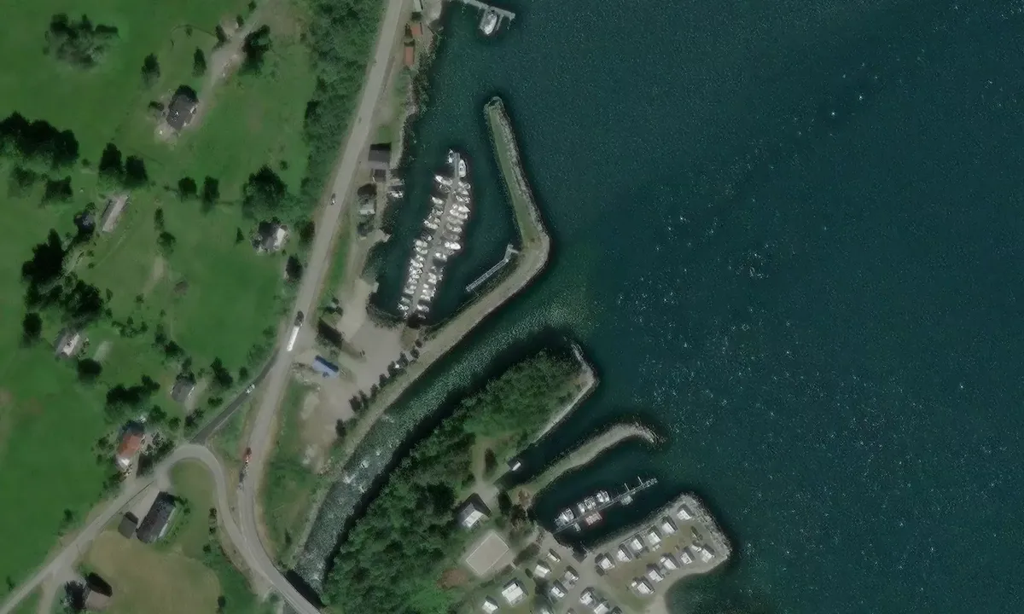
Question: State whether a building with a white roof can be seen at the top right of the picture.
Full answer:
No, I can find no building with a white roof at the top right of the picture.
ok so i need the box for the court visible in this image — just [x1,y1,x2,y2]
[466,532,509,575]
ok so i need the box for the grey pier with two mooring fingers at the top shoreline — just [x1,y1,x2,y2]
[465,0,515,29]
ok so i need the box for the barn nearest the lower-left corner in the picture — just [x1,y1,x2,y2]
[84,581,114,609]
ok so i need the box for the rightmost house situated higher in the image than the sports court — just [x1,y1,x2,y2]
[459,502,485,529]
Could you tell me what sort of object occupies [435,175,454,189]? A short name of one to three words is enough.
boat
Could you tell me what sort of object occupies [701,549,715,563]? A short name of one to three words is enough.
camper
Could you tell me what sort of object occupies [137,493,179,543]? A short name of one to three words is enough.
barn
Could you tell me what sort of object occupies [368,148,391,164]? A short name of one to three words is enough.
building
